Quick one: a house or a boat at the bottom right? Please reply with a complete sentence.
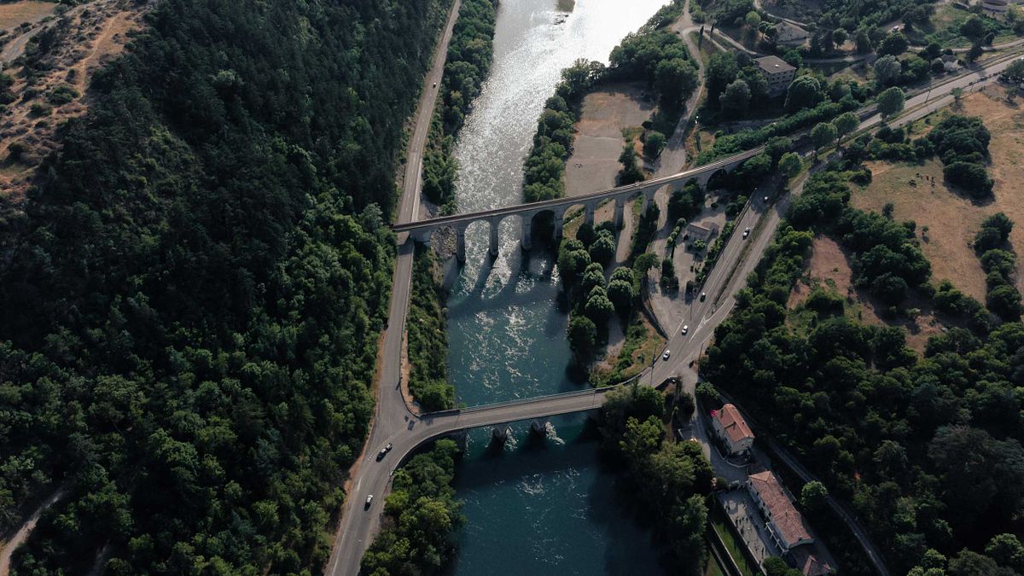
What appears at the bottom right is a house.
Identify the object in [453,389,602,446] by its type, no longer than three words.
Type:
bridge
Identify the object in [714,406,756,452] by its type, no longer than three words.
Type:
house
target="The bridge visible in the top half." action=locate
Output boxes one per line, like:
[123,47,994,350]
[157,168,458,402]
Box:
[392,145,767,266]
